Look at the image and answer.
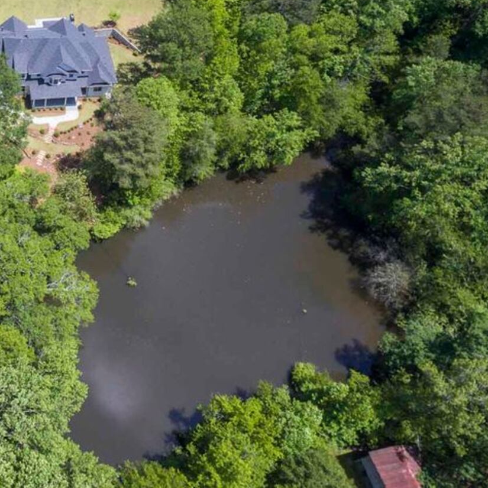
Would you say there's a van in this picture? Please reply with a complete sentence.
No, I find no van anywhere in the image.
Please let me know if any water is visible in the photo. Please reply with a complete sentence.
Yes, the picture does contain water.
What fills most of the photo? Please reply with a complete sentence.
For the most part, this view shows trees.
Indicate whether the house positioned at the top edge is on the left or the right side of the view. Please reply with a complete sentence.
It is on the left.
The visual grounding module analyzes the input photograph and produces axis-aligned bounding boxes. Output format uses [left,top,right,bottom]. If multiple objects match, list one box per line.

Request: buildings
[0,9,115,110]
[355,441,443,488]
